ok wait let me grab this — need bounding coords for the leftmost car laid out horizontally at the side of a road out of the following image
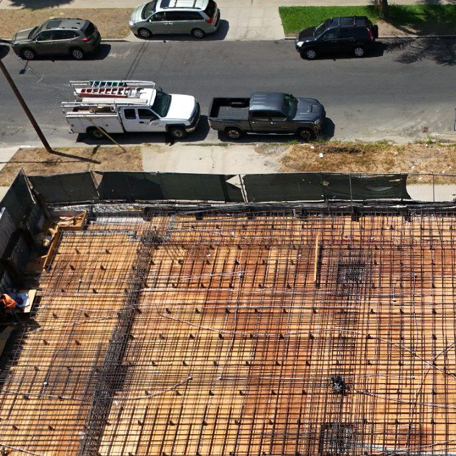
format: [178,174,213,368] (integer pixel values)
[9,14,105,59]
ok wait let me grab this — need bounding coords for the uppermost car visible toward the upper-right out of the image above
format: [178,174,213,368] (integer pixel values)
[292,13,383,58]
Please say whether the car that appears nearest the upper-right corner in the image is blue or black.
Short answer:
black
